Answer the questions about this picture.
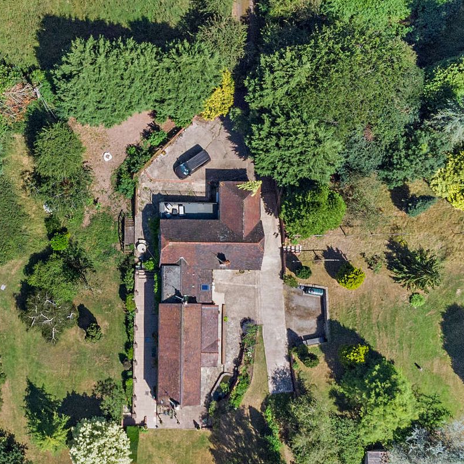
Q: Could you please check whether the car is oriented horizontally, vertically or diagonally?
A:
diagonally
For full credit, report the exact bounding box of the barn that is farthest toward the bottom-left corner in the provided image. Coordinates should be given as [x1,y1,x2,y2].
[157,292,219,413]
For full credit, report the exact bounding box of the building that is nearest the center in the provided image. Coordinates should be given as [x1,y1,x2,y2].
[159,182,265,304]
